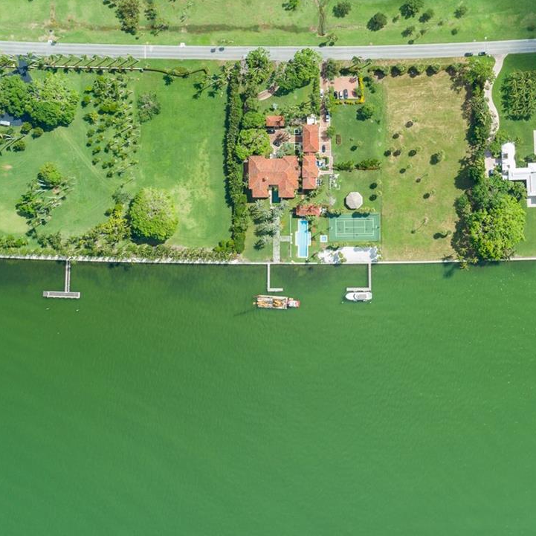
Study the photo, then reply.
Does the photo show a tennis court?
Yes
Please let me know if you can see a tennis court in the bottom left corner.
No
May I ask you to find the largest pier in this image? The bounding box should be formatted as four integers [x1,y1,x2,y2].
[43,262,79,299]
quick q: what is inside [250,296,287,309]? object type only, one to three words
ship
